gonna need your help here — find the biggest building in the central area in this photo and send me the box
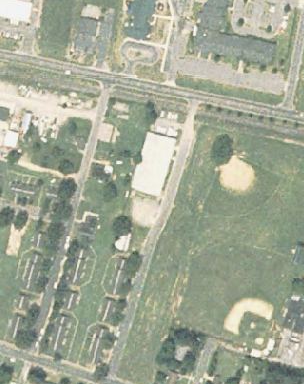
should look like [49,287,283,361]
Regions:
[132,131,176,198]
